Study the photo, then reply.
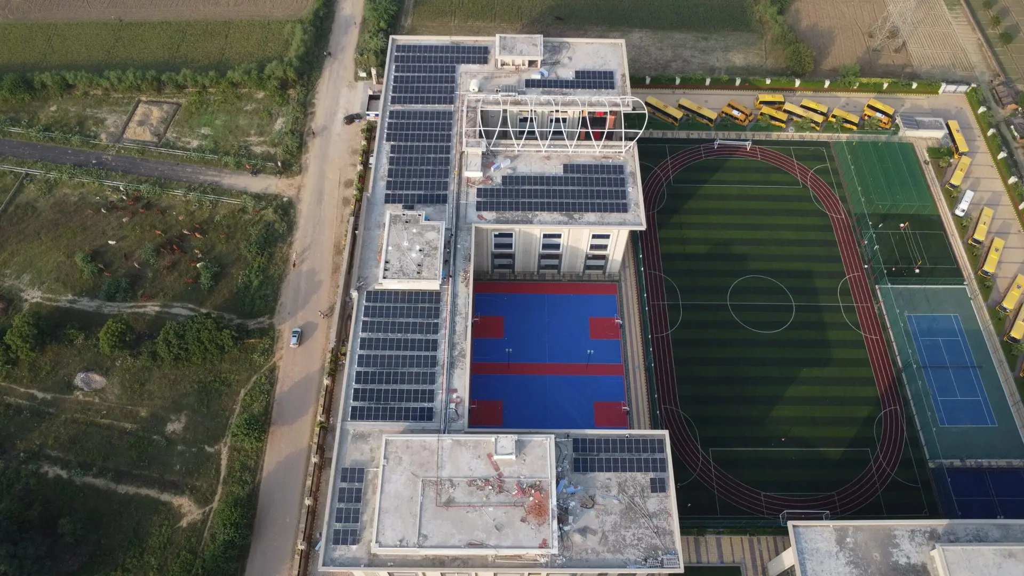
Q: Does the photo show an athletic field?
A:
Yes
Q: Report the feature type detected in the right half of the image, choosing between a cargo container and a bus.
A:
bus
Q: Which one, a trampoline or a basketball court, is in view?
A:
basketball court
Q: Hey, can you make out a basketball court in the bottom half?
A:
Yes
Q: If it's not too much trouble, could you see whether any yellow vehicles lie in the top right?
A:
Yes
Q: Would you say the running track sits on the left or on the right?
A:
right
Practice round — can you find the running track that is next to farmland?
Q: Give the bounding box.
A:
[642,145,904,518]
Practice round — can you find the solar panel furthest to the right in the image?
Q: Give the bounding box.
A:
[903,115,924,131]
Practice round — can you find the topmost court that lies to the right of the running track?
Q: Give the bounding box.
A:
[906,314,997,426]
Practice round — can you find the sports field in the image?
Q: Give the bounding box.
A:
[627,138,943,528]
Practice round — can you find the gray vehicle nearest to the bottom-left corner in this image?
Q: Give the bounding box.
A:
[290,327,302,349]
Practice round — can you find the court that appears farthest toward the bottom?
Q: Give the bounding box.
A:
[929,468,1024,523]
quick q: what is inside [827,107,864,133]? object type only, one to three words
bus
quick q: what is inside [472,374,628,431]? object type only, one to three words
basketball court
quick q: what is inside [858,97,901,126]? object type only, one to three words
bus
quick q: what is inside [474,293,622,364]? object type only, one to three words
basketball court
